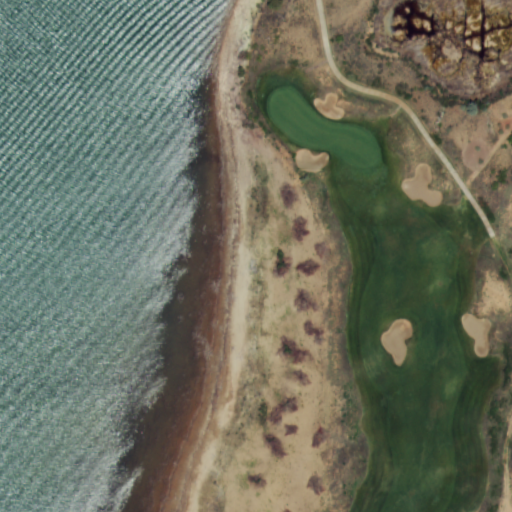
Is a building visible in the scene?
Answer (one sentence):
No, there isn't any building down there.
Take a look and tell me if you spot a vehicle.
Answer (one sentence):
No, I can't see a single vehicle in this photo.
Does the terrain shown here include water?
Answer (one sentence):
Yes, water can be seen from above here.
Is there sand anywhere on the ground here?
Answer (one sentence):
Yes, there is sand in the image.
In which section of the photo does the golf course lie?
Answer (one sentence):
The golf course sits in the right section of the image.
